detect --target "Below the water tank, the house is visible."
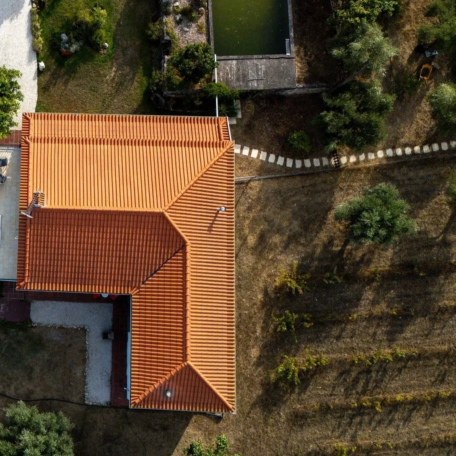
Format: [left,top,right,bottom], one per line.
[15,111,239,415]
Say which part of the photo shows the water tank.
top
